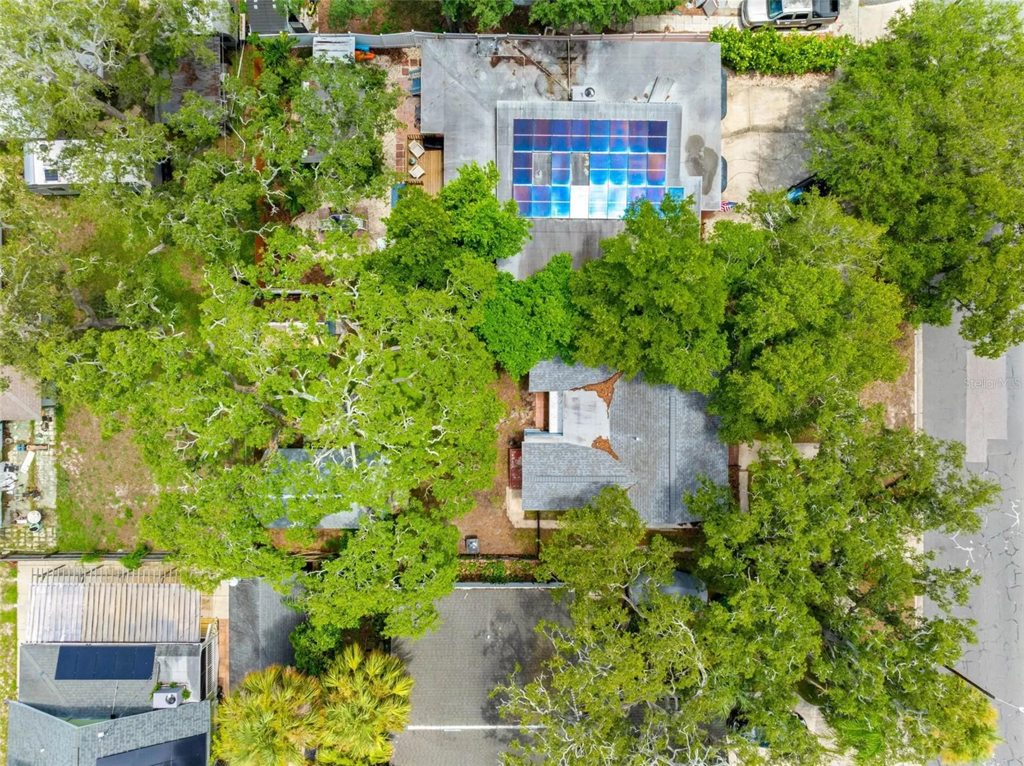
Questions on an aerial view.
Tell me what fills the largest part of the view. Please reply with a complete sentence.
What you mostly see from above here is trees.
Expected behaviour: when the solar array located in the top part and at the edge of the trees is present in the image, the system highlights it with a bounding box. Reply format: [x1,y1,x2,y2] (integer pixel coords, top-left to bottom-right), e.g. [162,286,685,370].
[514,118,686,220]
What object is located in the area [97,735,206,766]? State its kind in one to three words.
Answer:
solar array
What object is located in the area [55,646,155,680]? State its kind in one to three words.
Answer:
solar array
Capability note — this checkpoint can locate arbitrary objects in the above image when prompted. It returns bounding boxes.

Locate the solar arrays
[55,646,155,680]
[514,118,686,220]
[97,735,206,766]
